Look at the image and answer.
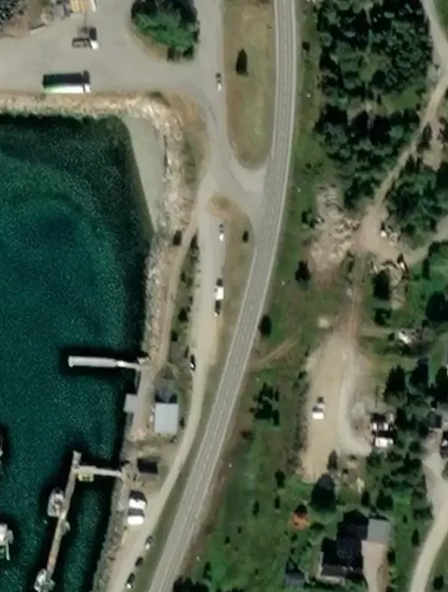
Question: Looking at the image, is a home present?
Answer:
Yes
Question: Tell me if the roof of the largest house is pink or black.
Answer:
black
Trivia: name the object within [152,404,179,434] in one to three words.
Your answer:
building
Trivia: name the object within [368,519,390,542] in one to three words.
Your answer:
building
